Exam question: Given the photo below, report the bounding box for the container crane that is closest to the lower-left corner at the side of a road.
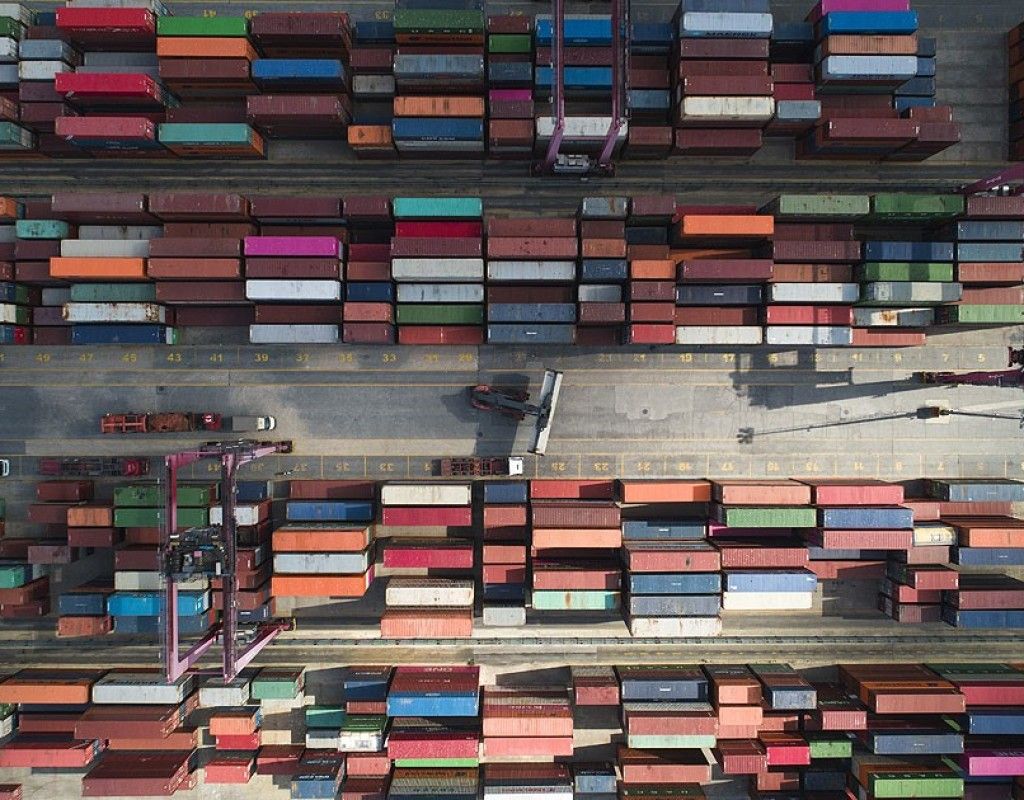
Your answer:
[162,439,295,683]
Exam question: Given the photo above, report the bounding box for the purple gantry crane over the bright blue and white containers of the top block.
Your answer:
[530,0,629,176]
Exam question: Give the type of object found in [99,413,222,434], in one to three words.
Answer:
truck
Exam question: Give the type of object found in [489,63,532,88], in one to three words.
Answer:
shipping container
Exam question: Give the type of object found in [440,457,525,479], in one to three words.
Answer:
truck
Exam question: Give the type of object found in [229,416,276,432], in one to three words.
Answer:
vehicle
